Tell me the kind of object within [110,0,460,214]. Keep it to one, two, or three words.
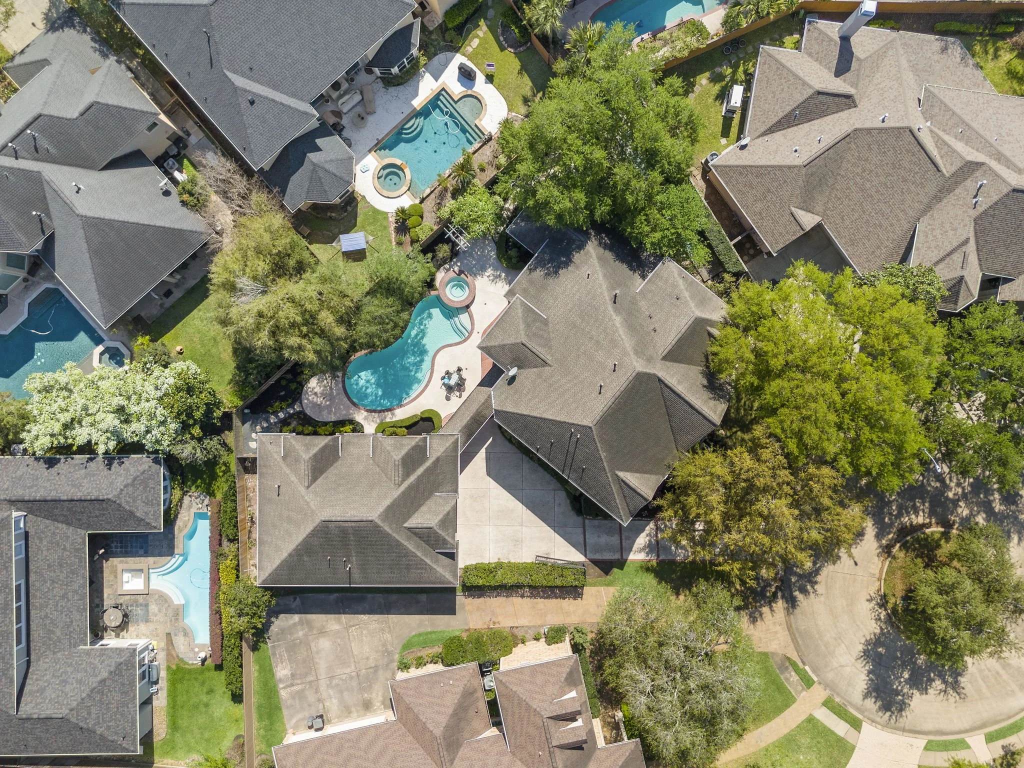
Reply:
house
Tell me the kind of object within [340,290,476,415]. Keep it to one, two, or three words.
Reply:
swimming pool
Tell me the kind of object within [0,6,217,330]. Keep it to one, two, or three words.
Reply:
house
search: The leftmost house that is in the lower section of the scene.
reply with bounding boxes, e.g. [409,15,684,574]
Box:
[0,453,187,757]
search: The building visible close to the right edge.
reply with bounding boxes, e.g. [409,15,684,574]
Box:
[707,0,1024,313]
